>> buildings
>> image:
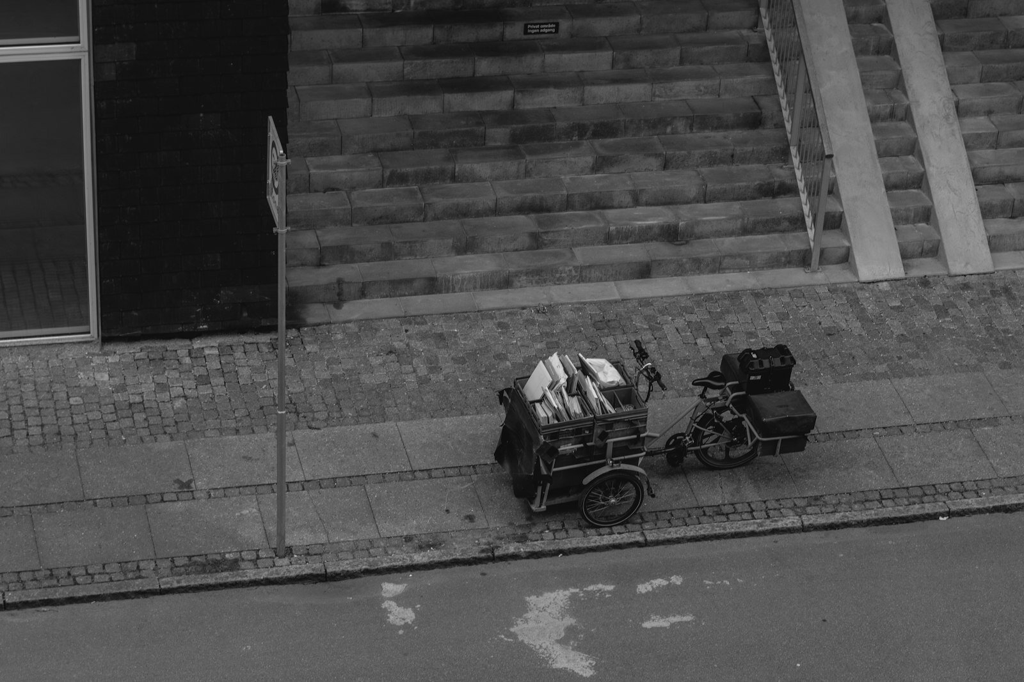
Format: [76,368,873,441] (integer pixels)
[0,0,291,350]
